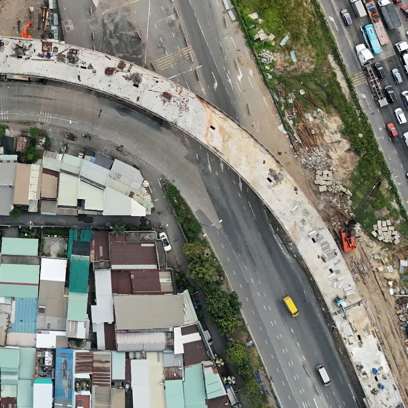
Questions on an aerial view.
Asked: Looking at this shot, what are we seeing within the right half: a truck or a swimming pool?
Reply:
truck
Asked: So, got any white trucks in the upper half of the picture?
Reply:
Yes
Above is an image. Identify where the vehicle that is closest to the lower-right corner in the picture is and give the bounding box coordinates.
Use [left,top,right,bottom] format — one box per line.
[314,362,328,384]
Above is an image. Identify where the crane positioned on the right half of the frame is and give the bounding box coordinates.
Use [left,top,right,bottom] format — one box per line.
[340,182,381,253]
